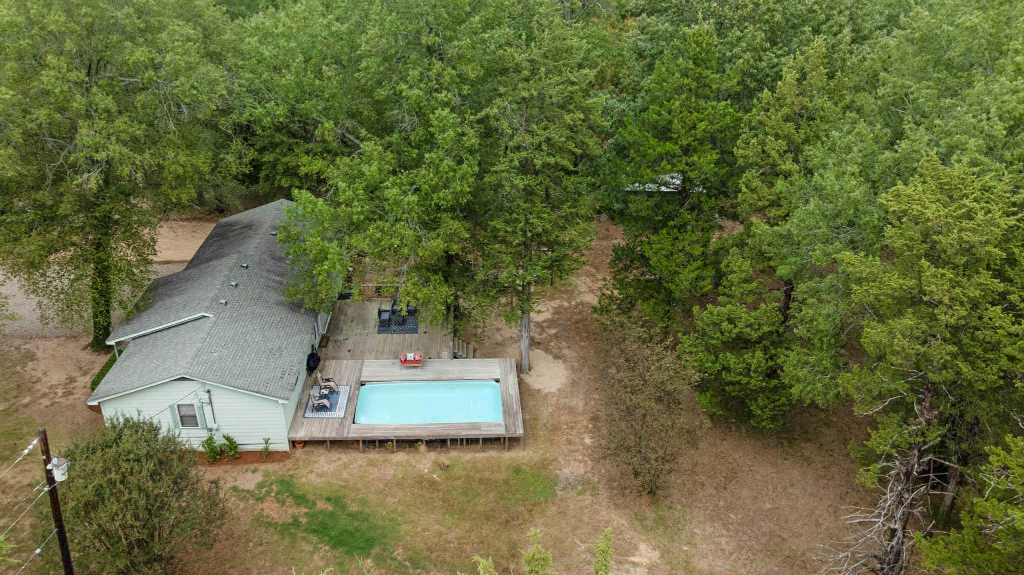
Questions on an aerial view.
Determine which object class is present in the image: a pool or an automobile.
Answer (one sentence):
The image shows a pool.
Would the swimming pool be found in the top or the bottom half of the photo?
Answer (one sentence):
You can find the swimming pool in the bottom half.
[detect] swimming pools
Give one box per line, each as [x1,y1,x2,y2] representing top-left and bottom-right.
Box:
[352,379,504,441]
